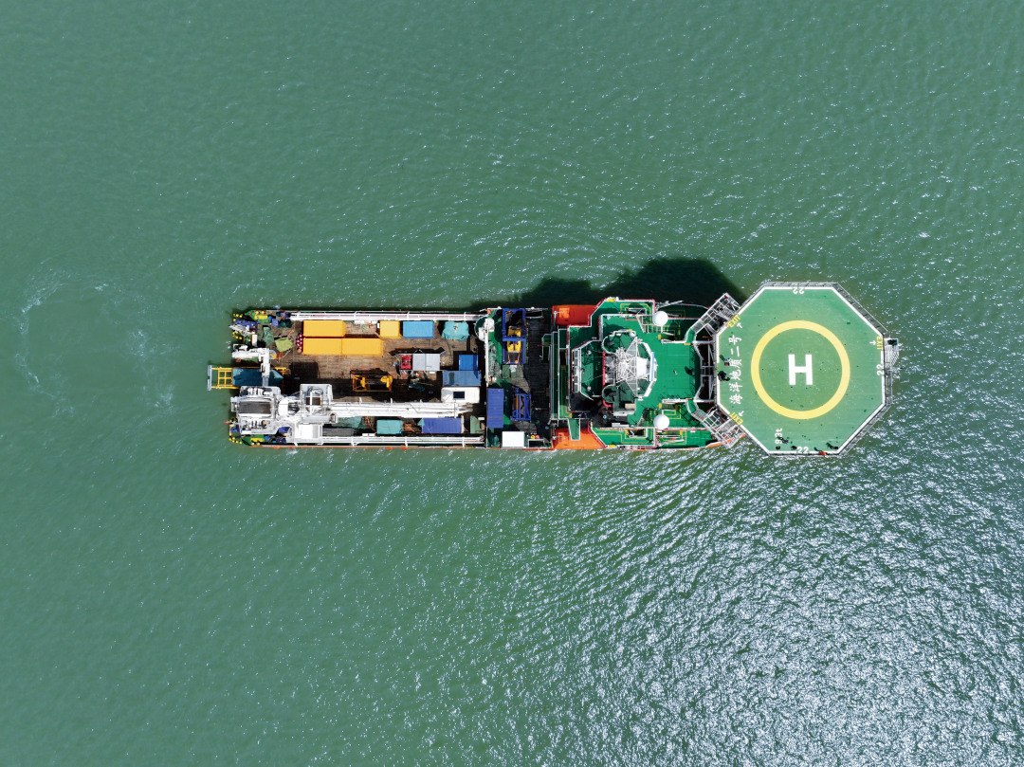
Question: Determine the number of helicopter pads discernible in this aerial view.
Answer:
1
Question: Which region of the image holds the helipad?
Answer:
right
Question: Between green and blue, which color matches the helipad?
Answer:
green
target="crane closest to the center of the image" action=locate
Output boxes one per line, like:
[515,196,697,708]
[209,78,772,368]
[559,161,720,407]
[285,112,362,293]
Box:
[473,319,496,387]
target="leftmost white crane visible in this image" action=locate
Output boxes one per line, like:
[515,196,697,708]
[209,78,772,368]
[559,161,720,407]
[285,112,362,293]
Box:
[232,345,276,386]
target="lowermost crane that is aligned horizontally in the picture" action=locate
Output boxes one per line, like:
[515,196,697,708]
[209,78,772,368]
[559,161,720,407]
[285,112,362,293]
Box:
[231,379,473,444]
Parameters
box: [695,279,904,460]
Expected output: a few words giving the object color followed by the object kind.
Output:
green helipad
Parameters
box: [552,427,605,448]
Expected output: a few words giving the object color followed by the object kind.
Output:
orange boat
